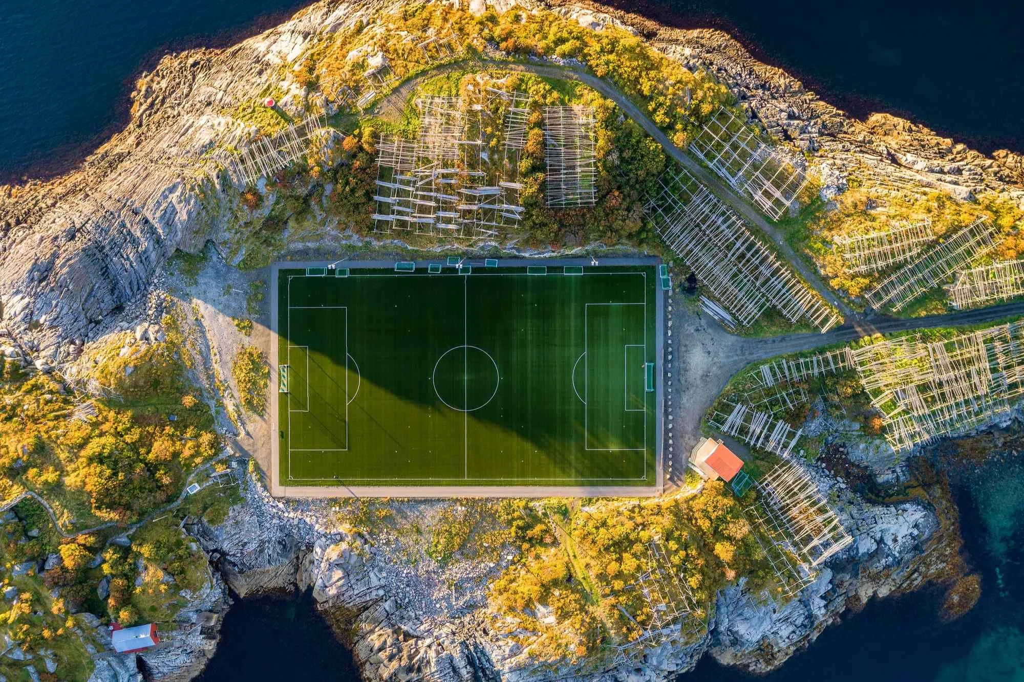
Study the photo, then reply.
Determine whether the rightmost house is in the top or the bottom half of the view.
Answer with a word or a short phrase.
bottom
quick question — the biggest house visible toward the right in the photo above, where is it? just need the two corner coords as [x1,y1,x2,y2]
[707,447,748,486]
